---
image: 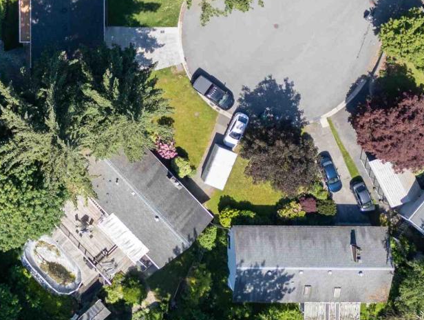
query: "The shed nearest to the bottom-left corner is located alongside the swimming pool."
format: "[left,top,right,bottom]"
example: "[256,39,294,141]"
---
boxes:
[77,300,111,320]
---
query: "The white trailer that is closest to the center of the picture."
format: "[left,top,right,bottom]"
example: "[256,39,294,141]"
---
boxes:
[201,143,240,191]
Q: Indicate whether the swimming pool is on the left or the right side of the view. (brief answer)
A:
left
